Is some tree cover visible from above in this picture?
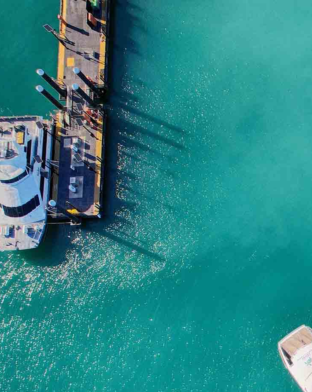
No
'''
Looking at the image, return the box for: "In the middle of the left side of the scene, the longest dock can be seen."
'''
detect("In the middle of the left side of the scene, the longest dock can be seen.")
[49,110,108,218]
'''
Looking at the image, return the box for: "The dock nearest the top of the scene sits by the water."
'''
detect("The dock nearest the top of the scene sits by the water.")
[57,0,113,91]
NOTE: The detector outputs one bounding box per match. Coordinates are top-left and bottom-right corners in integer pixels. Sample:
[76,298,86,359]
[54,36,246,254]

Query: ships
[0,116,54,252]
[278,326,312,392]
